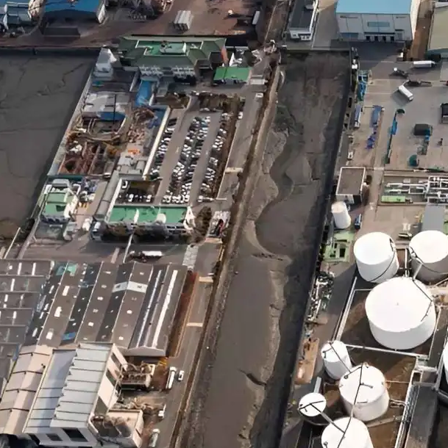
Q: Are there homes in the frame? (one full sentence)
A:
Yes, a home appears in the view.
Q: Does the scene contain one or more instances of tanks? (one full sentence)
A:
Yes, you can see a tank in this photo.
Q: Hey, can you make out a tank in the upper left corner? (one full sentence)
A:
No, looking in the upper left corner, there is no tank.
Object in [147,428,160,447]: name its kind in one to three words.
vehicle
